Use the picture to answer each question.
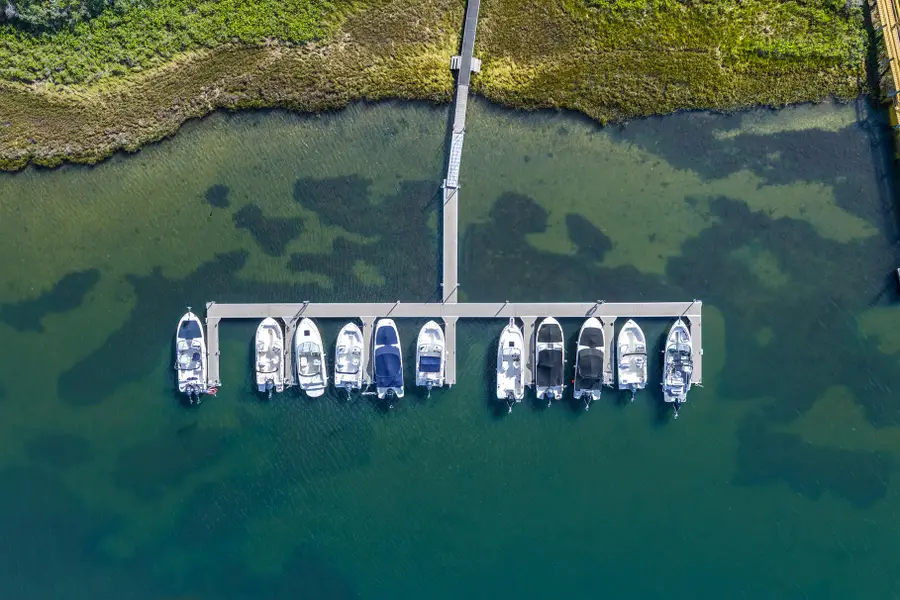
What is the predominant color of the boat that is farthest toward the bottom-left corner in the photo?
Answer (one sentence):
The color of the boat that is farthest toward the bottom-left corner is white.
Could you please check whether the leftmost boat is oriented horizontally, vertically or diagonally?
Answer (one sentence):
The leftmost boat is oriented vertically.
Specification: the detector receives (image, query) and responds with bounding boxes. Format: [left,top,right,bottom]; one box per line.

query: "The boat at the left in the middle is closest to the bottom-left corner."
[176,306,211,400]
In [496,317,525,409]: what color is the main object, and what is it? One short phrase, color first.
white boat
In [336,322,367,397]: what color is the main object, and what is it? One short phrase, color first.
white boat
